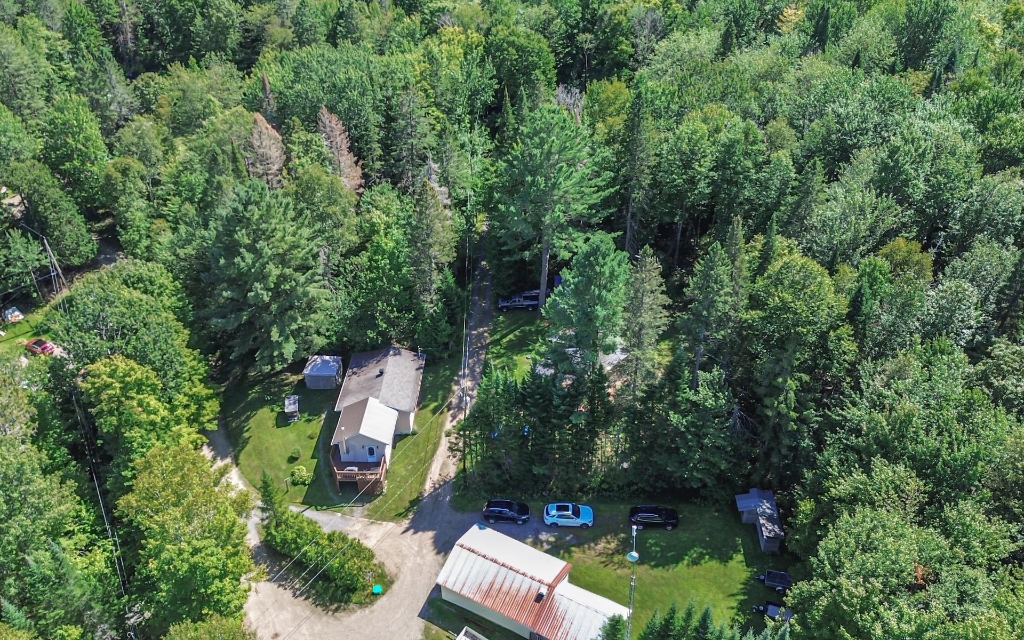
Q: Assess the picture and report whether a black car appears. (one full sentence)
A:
Yes, a black car is visible in the scene.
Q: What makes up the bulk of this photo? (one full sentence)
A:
Most of the picture is covered by trees.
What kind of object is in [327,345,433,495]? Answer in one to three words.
house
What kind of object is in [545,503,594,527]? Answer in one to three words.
car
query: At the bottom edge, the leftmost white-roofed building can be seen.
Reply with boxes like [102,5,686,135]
[437,523,639,640]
